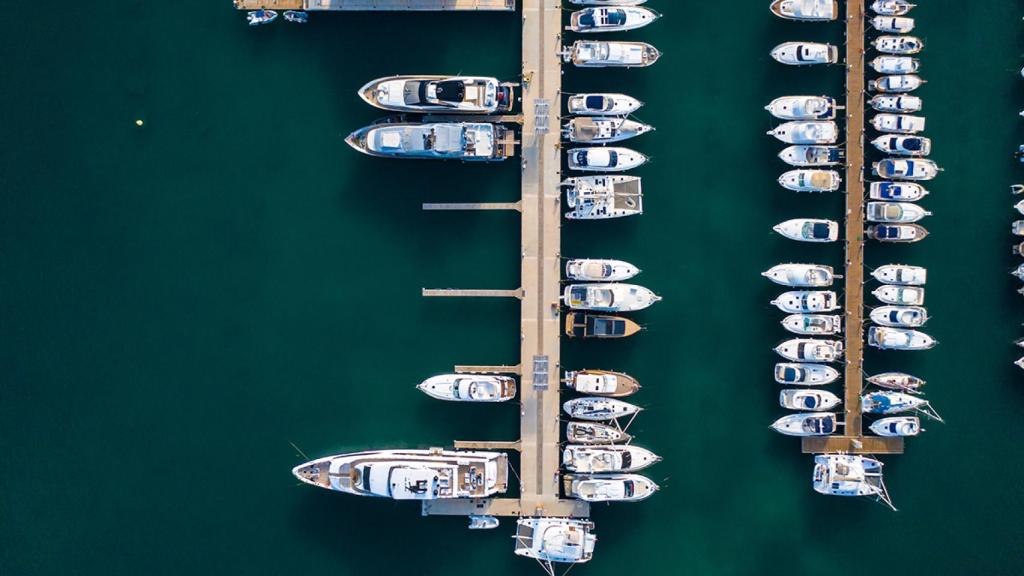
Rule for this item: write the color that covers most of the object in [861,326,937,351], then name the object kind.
white boat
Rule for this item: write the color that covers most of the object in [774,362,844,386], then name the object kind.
white boat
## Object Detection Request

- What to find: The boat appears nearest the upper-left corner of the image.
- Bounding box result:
[247,11,277,25]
